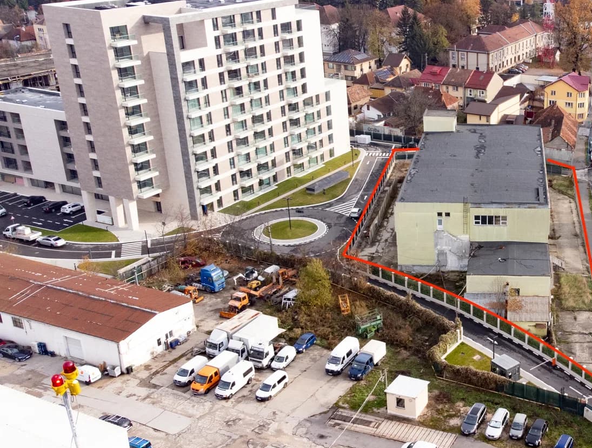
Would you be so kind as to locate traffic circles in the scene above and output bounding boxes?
[200,201,373,266]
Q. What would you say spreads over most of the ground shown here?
buildings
